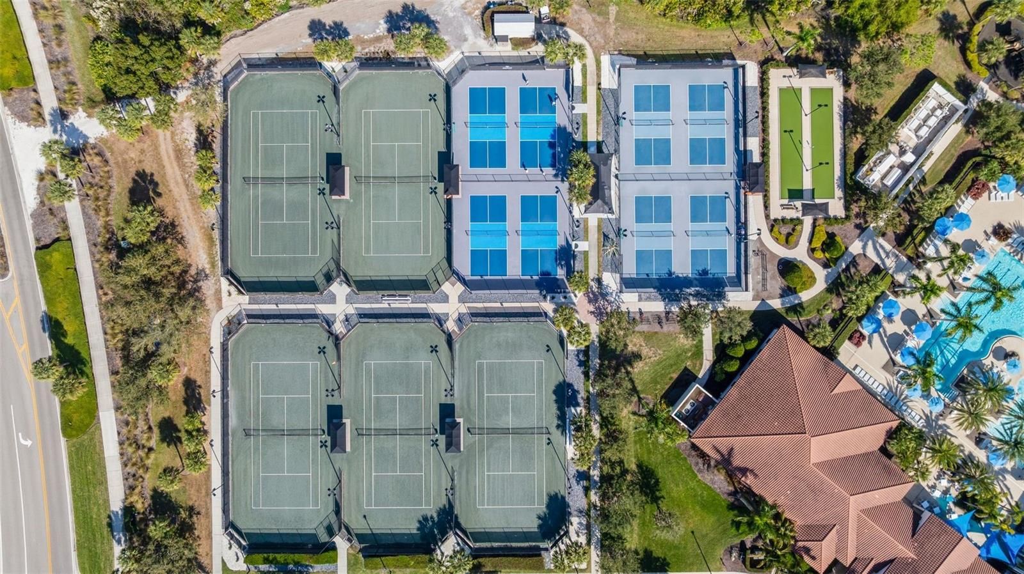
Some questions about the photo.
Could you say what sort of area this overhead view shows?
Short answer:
sports ground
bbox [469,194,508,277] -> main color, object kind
blue sports court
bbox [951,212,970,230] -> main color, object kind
blue umbrella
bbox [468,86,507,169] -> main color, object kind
blue sports court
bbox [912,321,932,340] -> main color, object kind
blue umbrella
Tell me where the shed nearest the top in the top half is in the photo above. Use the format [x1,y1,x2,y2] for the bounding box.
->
[494,9,534,40]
